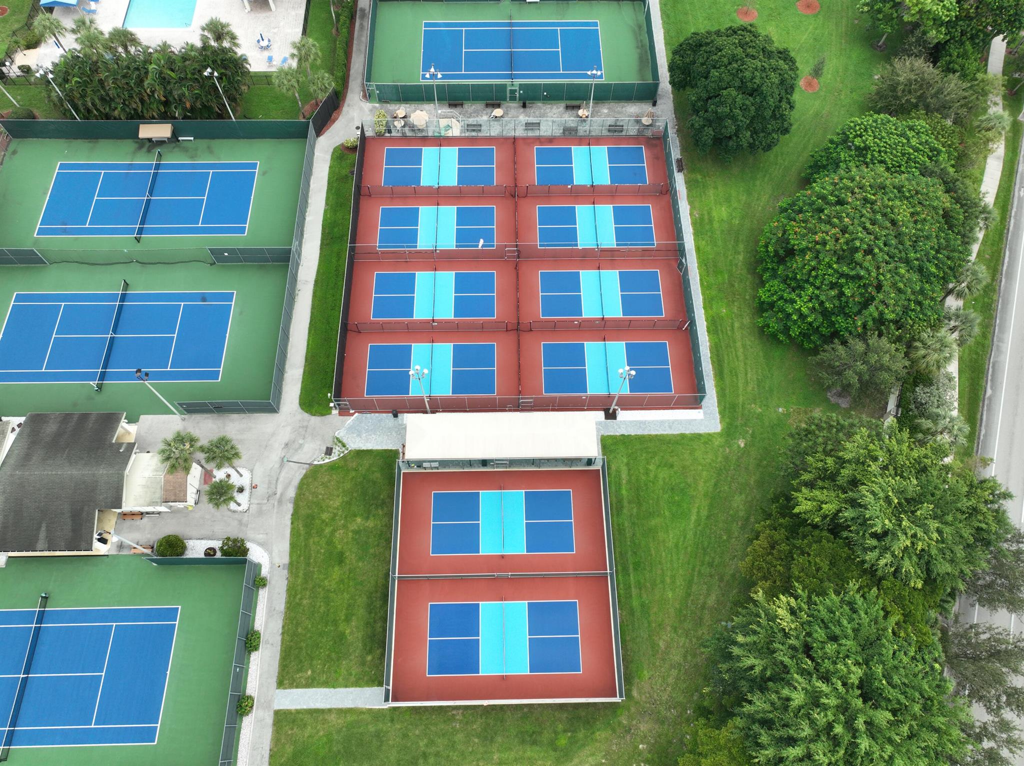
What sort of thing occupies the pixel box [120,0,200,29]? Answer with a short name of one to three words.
swimming pool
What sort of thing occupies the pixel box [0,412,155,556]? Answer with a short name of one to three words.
building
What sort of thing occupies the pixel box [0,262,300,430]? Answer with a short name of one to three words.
tennis court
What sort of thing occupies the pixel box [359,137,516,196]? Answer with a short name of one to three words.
sports court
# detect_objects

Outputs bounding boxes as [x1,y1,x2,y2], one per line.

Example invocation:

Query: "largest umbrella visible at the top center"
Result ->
[409,108,430,124]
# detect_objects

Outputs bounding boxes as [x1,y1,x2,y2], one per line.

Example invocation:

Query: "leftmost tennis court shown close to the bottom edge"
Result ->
[0,554,263,766]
